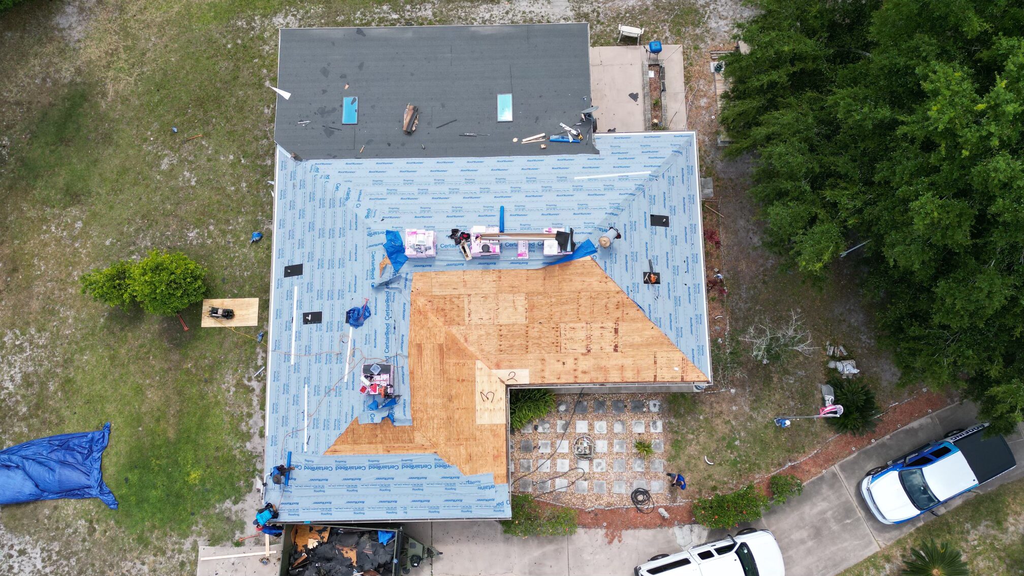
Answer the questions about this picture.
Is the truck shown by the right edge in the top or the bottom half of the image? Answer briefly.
bottom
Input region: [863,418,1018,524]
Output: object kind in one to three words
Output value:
truck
